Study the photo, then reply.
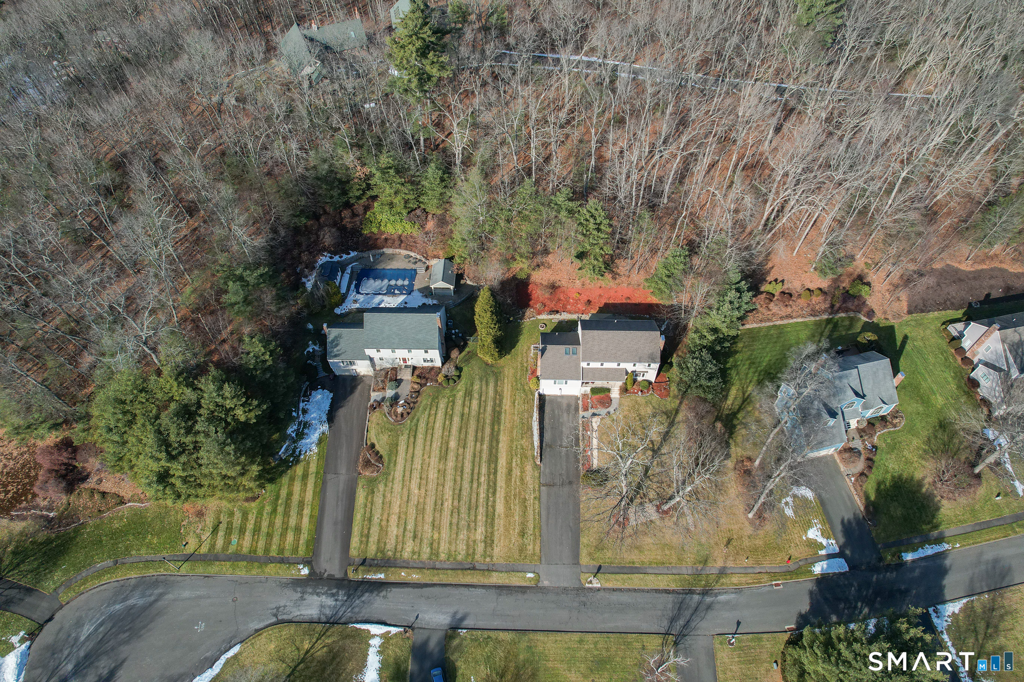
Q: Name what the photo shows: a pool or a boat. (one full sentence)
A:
The one in the frame is a pool.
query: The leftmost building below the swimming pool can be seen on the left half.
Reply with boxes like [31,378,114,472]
[322,306,447,383]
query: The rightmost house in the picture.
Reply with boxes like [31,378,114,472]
[946,313,1024,408]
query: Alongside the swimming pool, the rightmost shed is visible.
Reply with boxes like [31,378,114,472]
[430,261,455,295]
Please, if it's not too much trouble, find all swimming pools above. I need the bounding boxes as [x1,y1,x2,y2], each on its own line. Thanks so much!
[358,266,417,295]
